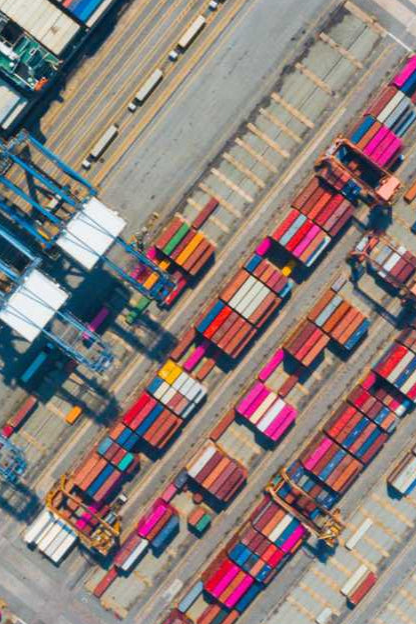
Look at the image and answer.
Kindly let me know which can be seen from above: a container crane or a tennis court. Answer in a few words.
container crane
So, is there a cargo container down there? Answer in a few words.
Yes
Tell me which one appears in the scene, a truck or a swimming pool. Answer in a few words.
truck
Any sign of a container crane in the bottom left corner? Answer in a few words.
Yes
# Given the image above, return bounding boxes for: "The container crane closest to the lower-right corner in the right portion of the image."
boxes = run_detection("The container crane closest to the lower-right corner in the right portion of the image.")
[258,461,352,545]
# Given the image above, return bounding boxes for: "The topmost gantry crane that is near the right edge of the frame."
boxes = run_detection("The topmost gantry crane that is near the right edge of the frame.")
[304,136,400,218]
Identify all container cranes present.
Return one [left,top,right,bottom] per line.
[0,223,124,379]
[38,472,121,556]
[258,461,352,545]
[0,130,180,308]
[338,228,416,307]
[304,136,400,218]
